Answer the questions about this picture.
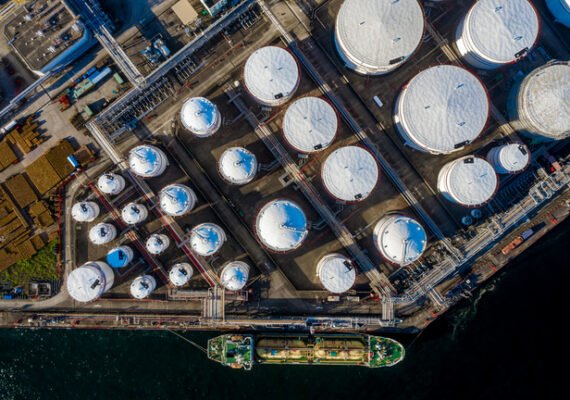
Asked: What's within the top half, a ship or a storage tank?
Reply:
storage tank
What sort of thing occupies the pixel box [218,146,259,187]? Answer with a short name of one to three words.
storage tank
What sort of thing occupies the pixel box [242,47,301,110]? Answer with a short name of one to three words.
storage tank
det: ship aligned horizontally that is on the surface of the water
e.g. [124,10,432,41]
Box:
[207,332,405,371]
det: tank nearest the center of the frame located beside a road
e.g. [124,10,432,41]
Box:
[255,198,308,251]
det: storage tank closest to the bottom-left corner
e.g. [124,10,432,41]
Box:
[66,260,117,304]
